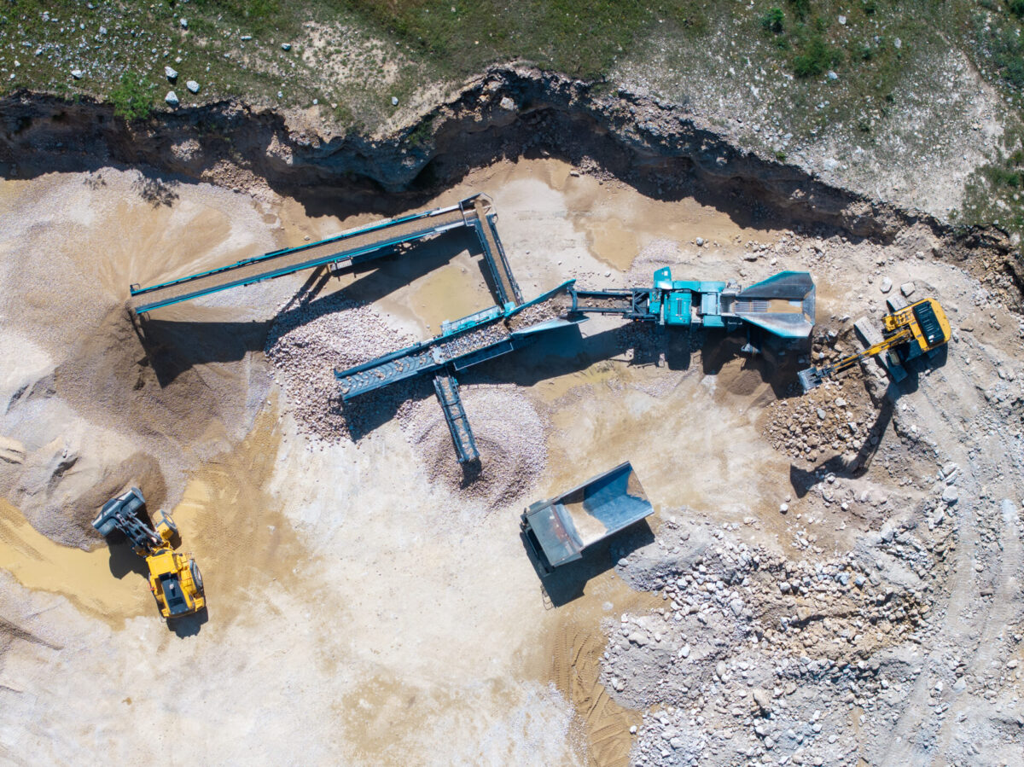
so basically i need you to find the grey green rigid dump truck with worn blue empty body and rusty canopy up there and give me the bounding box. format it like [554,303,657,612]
[522,461,654,567]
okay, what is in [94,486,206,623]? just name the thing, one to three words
work vehicle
